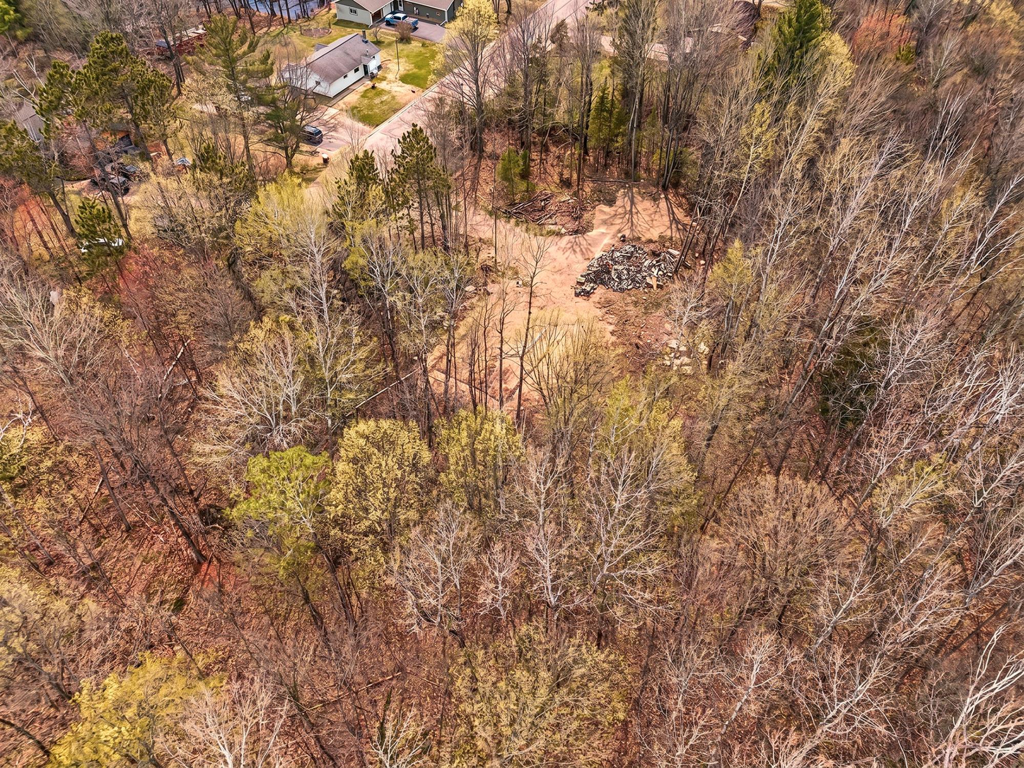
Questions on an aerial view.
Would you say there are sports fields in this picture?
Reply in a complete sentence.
No, the scene contains no sports field.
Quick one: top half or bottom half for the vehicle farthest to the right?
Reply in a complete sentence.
You can find the vehicle farthest to the right in the top half.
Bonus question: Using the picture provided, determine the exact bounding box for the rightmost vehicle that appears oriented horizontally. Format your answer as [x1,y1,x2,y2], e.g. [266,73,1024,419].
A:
[385,10,422,30]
